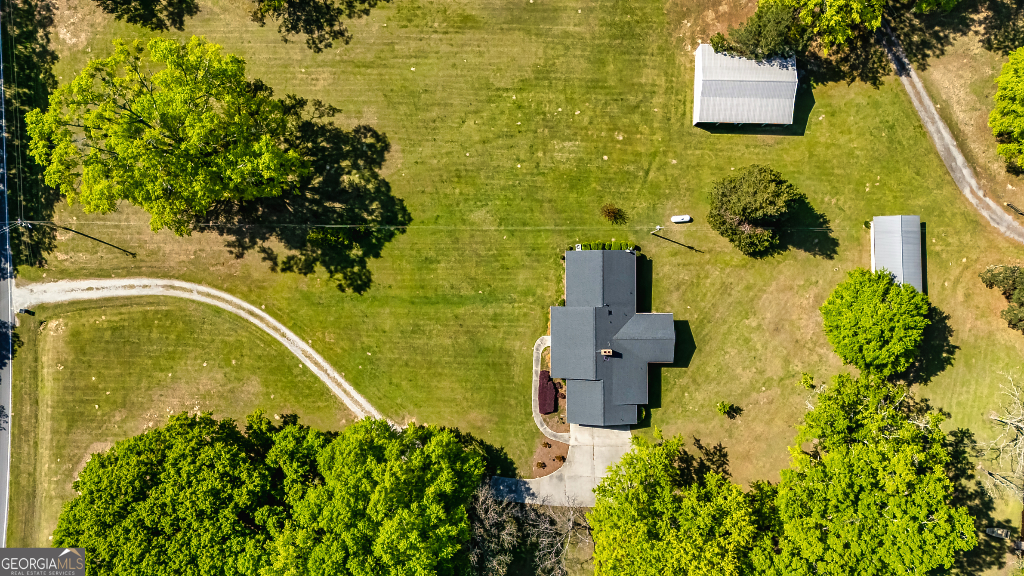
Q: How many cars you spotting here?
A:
0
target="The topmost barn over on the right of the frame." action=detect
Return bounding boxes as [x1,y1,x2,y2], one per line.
[694,42,800,127]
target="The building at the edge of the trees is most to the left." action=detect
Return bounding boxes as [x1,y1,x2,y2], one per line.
[550,250,675,426]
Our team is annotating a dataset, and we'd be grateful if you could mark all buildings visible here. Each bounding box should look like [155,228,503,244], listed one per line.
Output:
[694,42,800,127]
[550,250,675,426]
[870,215,921,300]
